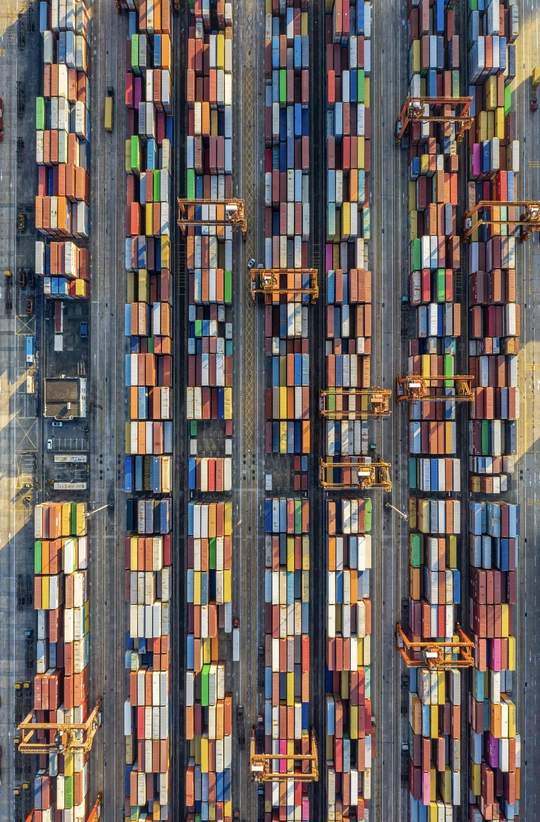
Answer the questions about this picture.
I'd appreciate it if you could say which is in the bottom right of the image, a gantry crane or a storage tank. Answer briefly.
gantry crane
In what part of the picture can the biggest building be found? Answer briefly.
left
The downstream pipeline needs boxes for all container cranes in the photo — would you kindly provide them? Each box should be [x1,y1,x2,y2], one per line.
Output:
[394,621,477,669]
[176,197,252,242]
[247,267,320,306]
[394,95,477,149]
[315,458,392,490]
[461,199,540,244]
[14,694,105,751]
[315,390,389,417]
[394,374,477,403]
[246,722,321,783]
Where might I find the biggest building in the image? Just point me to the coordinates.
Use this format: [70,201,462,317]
[42,375,87,422]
